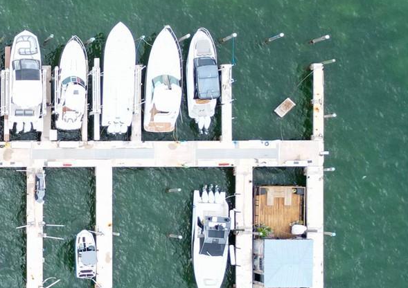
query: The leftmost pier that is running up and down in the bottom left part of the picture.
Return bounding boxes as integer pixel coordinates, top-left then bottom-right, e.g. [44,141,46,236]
[24,168,43,288]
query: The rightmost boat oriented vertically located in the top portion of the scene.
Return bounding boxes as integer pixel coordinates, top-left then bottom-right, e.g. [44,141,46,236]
[183,28,219,130]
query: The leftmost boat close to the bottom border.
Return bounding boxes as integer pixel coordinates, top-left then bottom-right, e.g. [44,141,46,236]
[75,230,97,278]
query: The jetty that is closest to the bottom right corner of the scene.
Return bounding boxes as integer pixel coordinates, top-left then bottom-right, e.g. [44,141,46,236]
[301,168,324,288]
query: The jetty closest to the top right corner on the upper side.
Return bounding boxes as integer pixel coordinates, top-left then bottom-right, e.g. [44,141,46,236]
[308,64,324,140]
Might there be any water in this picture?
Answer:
Yes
